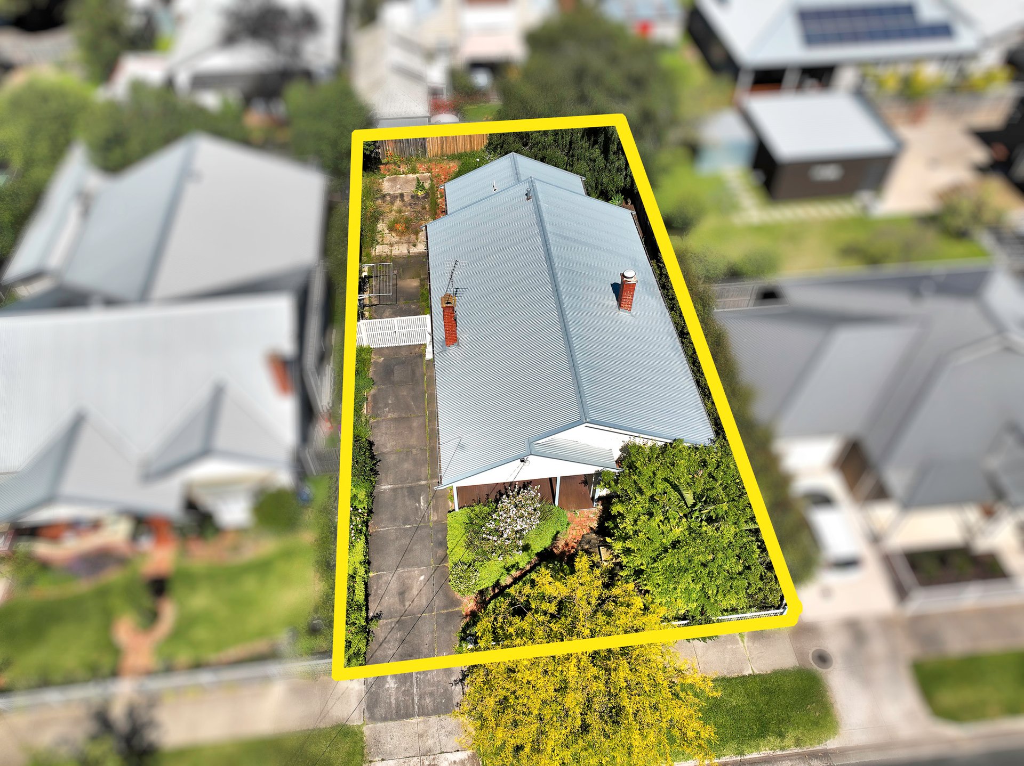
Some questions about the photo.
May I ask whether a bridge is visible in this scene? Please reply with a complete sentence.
No, the photo shows no bridge.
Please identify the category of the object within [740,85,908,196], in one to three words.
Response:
shed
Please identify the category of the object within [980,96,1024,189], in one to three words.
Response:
shed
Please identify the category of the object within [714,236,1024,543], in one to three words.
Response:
house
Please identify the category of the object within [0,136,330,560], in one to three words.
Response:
house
